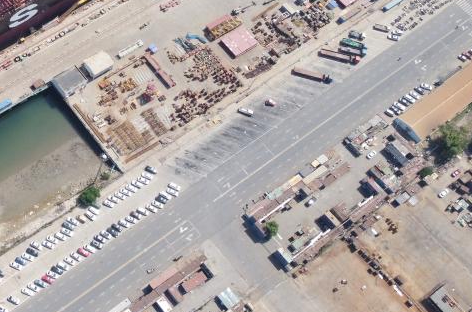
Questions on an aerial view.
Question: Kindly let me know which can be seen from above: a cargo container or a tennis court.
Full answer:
This aerial view contains a cargo container.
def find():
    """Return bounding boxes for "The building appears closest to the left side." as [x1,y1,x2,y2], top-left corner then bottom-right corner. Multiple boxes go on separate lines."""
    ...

[50,66,88,102]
